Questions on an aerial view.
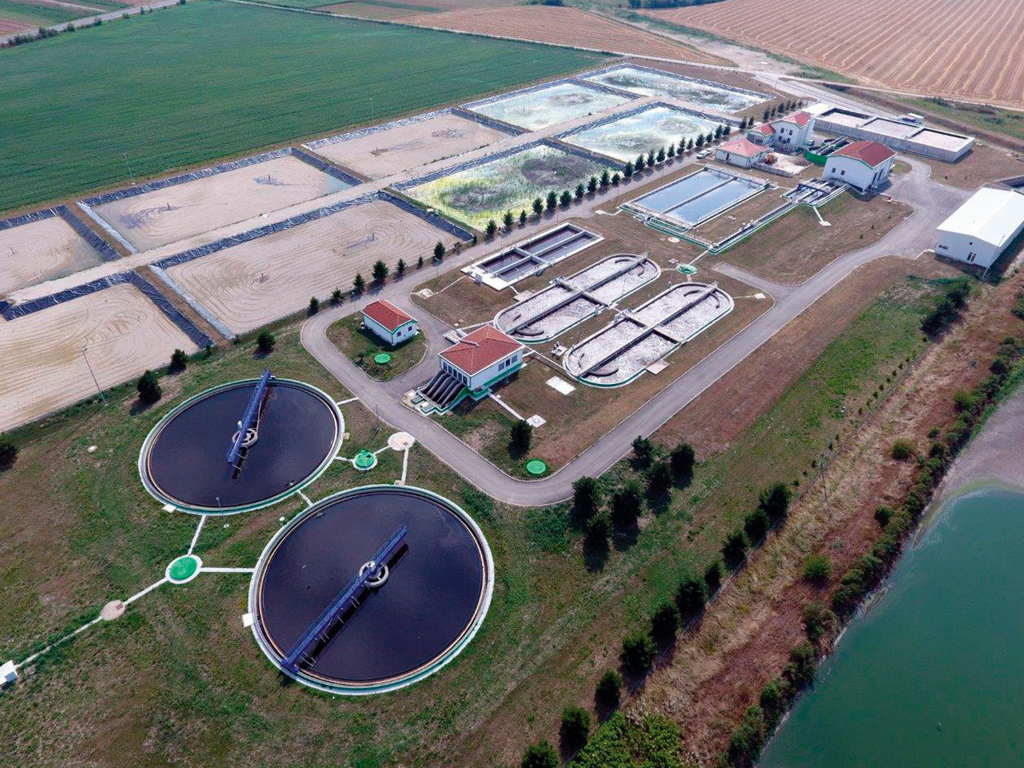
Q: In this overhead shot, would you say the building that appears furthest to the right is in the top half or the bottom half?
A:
top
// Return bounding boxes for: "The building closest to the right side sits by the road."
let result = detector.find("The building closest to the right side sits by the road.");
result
[933,188,1024,269]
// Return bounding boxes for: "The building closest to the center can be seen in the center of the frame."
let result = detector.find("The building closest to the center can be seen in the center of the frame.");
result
[398,322,528,419]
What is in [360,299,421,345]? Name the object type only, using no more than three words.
house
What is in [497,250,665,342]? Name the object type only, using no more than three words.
storage tank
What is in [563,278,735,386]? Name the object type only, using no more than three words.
storage tank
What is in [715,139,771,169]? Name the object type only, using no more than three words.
house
